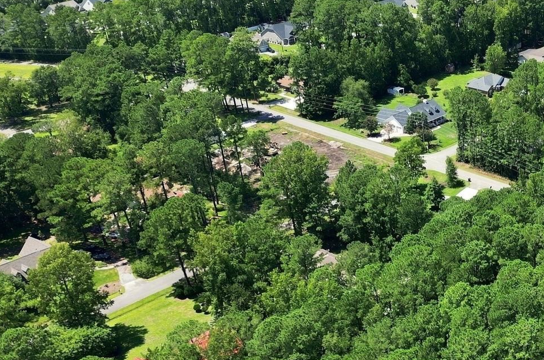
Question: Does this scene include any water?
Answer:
No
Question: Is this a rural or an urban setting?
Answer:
rural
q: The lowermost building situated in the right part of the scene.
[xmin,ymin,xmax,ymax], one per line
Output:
[371,96,444,132]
